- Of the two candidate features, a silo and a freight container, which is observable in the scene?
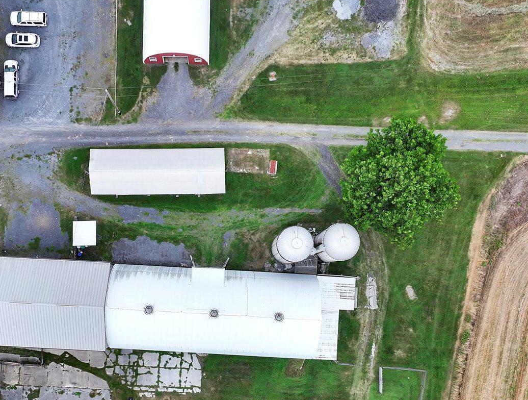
silo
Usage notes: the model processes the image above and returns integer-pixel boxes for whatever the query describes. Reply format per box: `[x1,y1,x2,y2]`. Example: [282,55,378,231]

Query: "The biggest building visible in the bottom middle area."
[103,264,323,358]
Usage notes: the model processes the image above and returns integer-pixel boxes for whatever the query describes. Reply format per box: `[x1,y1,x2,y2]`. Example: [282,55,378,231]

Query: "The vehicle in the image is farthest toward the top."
[12,12,50,32]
